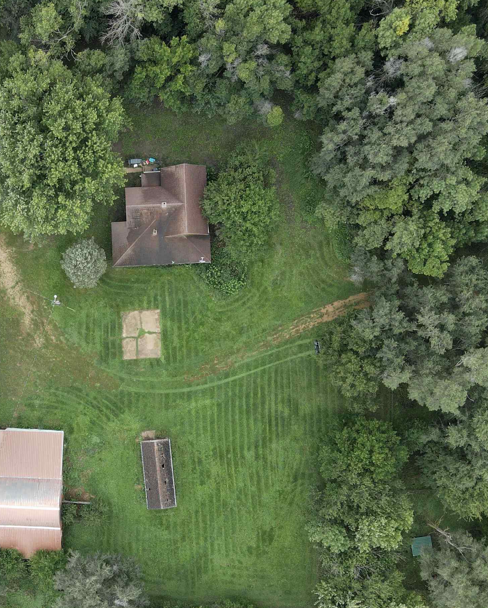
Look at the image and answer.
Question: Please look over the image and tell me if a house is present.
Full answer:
Yes, the frame does contain a house.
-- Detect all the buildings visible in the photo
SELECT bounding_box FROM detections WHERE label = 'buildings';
[0,425,66,561]
[140,438,176,510]
[111,164,210,268]
[414,538,436,560]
